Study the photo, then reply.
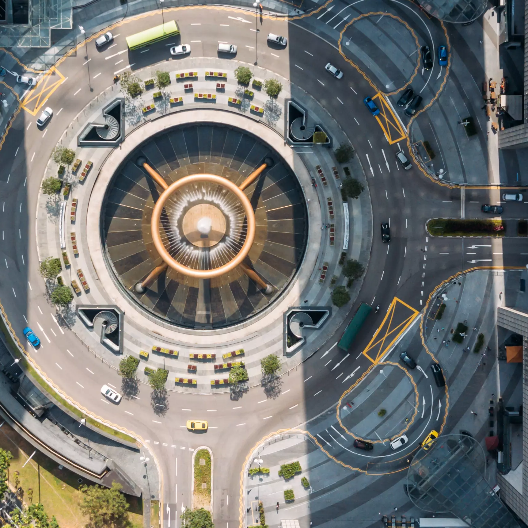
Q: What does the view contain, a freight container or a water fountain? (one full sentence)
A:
Of the two, only a water fountain appears.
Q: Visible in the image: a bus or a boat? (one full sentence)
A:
The image shows a bus.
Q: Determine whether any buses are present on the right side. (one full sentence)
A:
Yes, a bus shows up on the right side.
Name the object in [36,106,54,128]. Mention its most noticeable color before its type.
white car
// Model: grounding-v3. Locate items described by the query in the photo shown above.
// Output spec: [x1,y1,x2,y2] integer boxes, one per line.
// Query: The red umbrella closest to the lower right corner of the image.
[483,435,498,449]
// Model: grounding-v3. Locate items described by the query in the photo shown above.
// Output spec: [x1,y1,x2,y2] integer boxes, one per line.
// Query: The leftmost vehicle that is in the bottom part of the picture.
[23,326,41,348]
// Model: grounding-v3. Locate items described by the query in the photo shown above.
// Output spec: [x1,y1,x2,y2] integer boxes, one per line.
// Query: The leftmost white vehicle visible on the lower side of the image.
[100,385,122,401]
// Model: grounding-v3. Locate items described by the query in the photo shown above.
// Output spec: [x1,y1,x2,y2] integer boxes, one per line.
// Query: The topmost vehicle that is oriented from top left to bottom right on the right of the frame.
[324,61,344,79]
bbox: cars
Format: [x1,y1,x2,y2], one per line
[480,204,503,214]
[170,44,191,55]
[431,362,446,386]
[363,96,380,117]
[399,350,417,372]
[186,420,208,431]
[388,434,409,449]
[0,66,8,76]
[405,96,422,117]
[16,74,38,86]
[504,192,523,202]
[397,87,413,109]
[352,438,374,450]
[324,61,344,79]
[23,326,41,348]
[265,33,288,45]
[36,106,54,128]
[380,221,389,242]
[93,31,115,49]
[100,385,122,401]
[394,151,411,170]
[422,47,431,68]
[216,43,239,54]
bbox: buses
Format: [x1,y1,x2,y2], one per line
[333,300,375,354]
[125,22,183,51]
